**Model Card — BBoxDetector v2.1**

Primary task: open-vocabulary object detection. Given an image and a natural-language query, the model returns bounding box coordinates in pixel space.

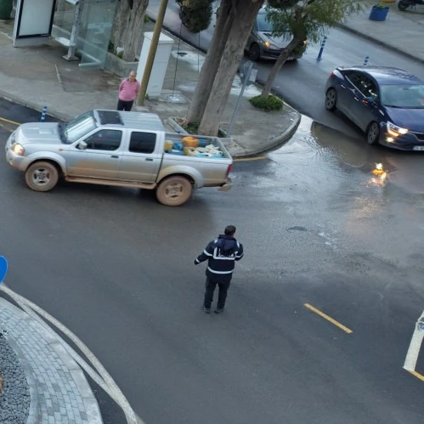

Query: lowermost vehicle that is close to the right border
[320,61,424,152]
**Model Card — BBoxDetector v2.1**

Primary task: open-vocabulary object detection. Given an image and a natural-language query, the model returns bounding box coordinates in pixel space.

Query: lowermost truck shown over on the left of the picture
[7,106,242,205]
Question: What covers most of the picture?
paved ground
